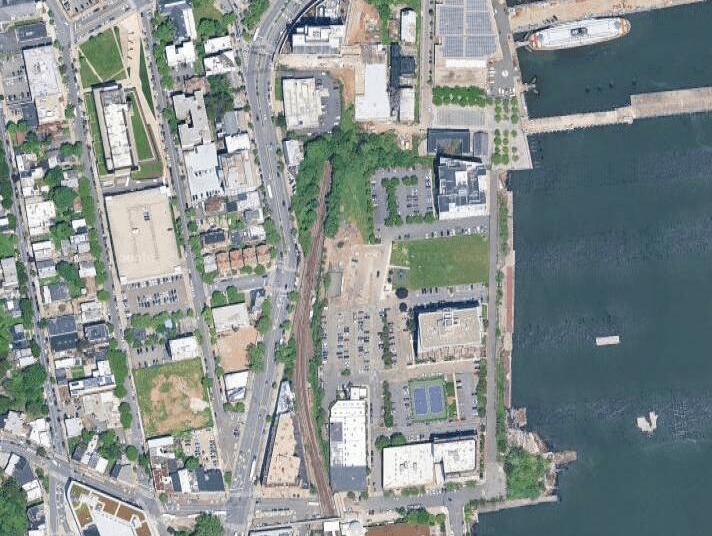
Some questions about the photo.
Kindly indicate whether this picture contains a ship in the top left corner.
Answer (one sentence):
No, no ship appears in the top left corner.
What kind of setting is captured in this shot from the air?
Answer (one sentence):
The picture captures a residential area.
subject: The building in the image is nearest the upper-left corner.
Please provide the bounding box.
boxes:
[0,0,38,26]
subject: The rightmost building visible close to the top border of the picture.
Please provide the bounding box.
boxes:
[435,0,504,90]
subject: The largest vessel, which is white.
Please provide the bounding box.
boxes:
[527,19,631,51]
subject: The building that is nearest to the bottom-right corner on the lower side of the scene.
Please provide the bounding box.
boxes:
[434,435,475,487]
